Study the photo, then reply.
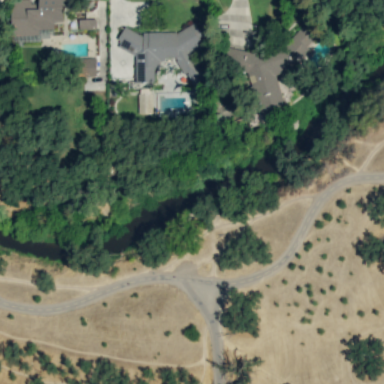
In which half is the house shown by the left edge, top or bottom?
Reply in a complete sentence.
It is in the top half that the house shown by the left edge appears.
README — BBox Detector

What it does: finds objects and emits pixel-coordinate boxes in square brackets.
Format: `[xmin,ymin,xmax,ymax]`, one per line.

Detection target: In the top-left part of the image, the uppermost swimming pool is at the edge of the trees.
[61,42,89,57]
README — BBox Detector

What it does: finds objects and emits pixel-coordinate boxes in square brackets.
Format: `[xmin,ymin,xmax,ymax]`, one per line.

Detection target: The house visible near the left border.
[10,0,72,36]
